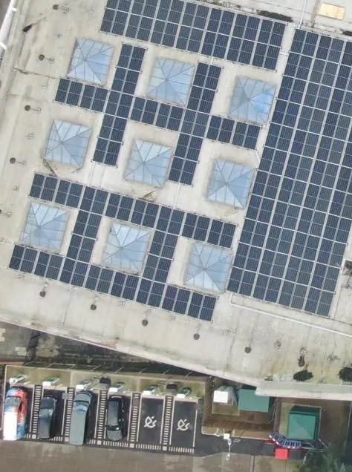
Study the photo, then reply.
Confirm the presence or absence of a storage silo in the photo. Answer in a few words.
No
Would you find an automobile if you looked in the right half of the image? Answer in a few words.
No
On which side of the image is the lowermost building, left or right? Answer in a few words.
right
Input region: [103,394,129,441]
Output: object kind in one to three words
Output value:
car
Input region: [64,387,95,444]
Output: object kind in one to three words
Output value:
car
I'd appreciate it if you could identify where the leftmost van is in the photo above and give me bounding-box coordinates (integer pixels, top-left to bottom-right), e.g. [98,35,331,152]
[1,386,31,443]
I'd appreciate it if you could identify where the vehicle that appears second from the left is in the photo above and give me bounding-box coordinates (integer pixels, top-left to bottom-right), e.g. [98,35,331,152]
[35,393,60,442]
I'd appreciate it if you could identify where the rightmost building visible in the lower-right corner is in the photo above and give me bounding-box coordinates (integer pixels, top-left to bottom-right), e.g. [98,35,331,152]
[279,402,322,441]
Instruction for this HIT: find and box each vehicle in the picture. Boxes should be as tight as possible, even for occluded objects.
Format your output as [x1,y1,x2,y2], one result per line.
[103,394,129,441]
[64,387,95,444]
[1,386,31,443]
[35,393,60,442]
